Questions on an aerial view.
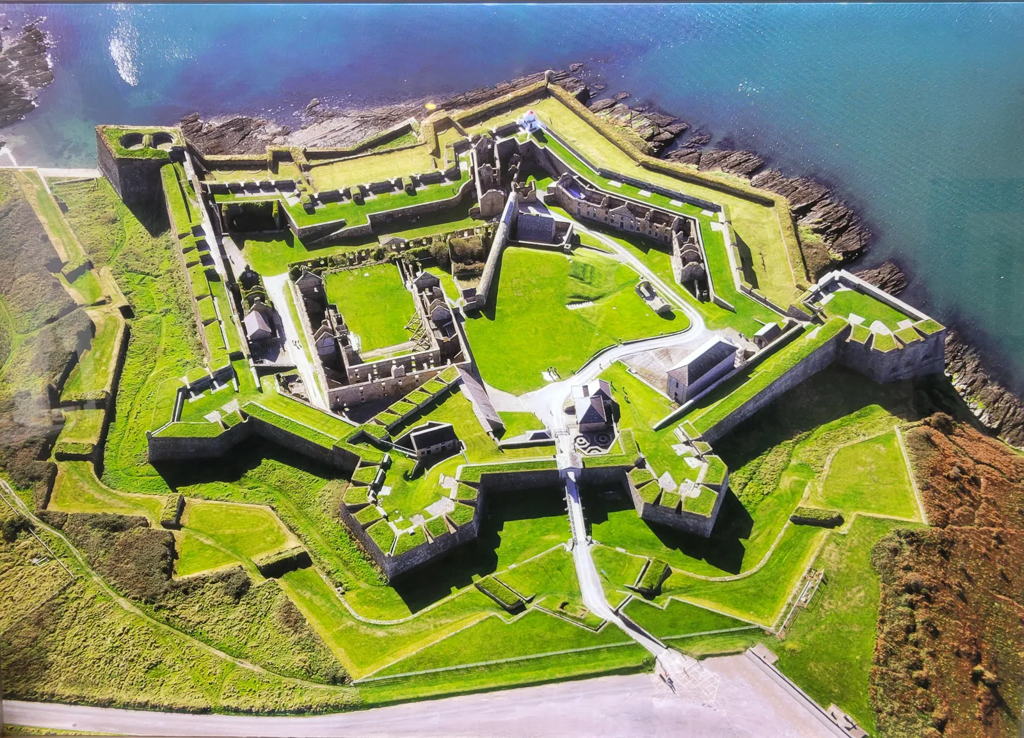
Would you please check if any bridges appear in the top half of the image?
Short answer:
No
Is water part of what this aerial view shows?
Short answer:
Yes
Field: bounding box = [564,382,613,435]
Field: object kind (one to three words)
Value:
building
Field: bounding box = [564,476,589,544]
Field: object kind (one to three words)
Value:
bridge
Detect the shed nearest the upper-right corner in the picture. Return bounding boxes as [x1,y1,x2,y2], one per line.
[751,321,783,347]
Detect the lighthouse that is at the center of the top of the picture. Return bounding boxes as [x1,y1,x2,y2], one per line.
[517,109,547,139]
